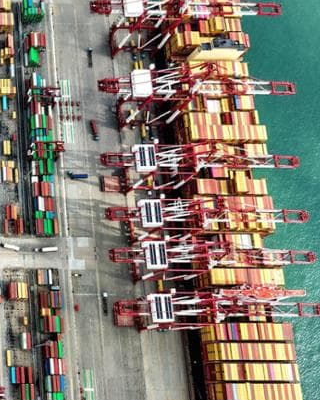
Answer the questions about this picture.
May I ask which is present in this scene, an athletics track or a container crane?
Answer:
container crane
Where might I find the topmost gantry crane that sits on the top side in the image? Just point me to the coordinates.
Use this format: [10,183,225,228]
[91,0,279,59]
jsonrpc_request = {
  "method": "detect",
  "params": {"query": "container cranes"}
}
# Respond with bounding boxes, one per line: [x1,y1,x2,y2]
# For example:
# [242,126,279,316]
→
[111,233,318,285]
[103,138,302,198]
[116,282,320,335]
[91,0,279,59]
[26,86,61,107]
[97,64,291,132]
[26,140,62,159]
[108,193,311,248]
